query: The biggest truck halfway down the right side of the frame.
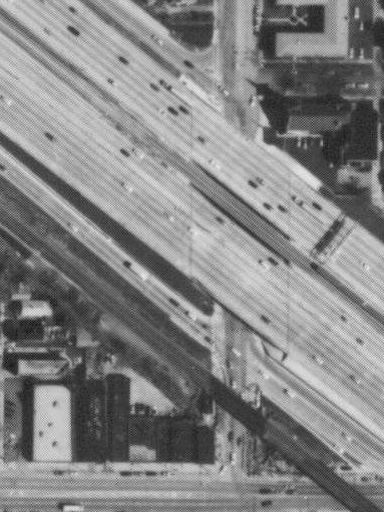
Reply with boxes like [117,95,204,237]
[300,202,332,230]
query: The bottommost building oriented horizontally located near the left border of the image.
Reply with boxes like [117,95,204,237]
[18,359,68,377]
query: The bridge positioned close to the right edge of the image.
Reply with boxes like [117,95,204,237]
[300,448,370,512]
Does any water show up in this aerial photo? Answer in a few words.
No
